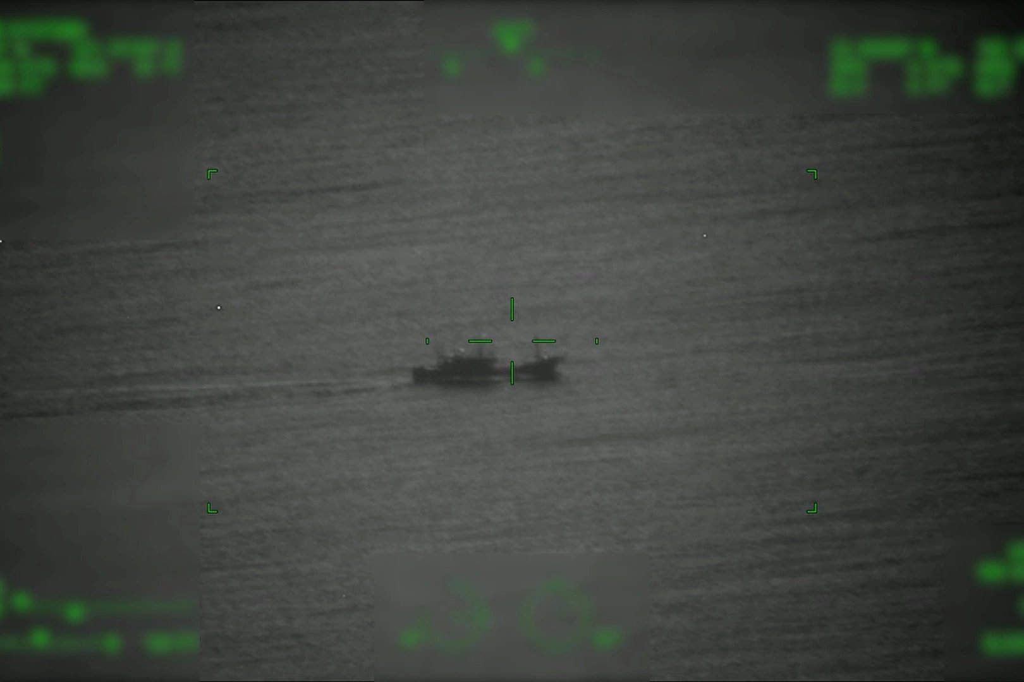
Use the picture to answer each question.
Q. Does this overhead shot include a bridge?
No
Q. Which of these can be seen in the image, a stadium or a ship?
ship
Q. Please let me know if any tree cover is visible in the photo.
No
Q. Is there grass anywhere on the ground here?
No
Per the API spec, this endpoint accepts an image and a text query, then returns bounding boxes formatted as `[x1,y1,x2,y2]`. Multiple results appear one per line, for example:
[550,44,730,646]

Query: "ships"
[411,334,562,382]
